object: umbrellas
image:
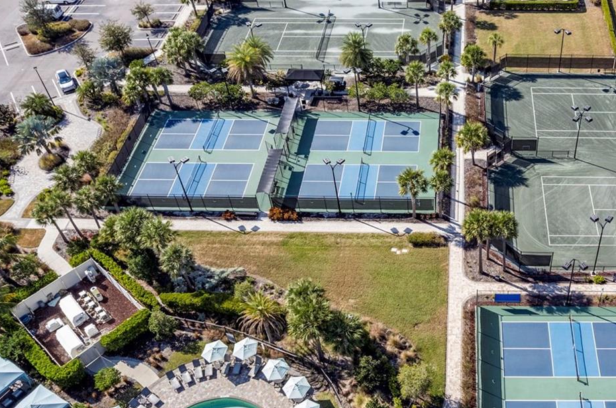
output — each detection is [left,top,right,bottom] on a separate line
[201,340,230,367]
[231,337,261,366]
[281,375,313,404]
[293,399,322,408]
[261,357,290,386]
